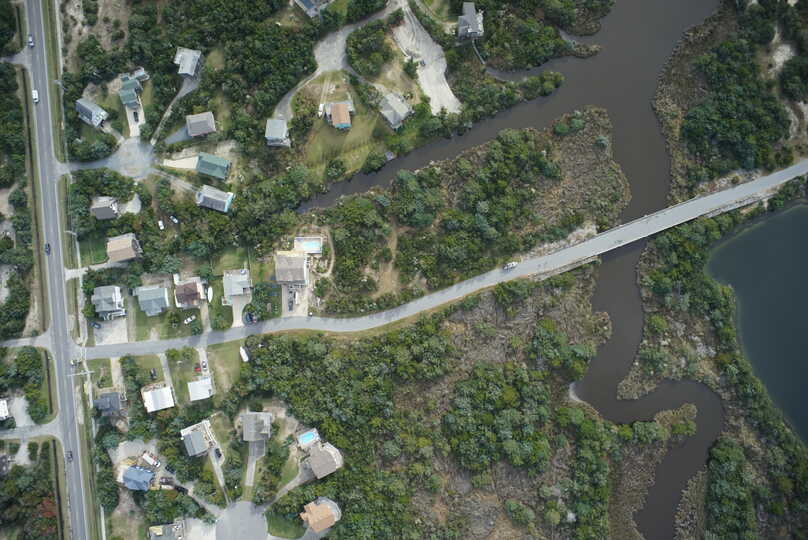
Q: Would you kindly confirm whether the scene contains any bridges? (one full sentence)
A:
Yes, there's a bridge down there.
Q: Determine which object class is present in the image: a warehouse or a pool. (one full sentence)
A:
Looking from above, you can make out a pool.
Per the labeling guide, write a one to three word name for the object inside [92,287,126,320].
house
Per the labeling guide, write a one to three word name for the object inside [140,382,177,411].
house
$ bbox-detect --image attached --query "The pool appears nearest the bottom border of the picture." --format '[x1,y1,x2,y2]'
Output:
[296,429,322,451]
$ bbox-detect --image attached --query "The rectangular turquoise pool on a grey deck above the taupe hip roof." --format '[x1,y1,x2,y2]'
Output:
[294,236,321,253]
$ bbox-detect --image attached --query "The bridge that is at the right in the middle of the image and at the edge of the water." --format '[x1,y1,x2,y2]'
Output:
[587,197,703,254]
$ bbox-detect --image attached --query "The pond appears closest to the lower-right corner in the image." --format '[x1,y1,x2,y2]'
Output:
[705,203,808,448]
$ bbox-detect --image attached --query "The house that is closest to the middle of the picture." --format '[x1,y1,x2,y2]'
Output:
[275,250,309,287]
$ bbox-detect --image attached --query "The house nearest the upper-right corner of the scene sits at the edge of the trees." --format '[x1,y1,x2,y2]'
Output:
[457,0,485,39]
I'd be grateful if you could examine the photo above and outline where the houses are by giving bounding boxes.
[275,250,309,287]
[196,152,234,178]
[185,111,218,140]
[74,96,110,126]
[0,455,17,478]
[378,92,413,129]
[221,269,253,305]
[242,411,273,441]
[172,47,204,77]
[266,119,290,146]
[194,184,235,212]
[173,274,205,308]
[90,197,122,219]
[107,231,144,261]
[92,287,126,320]
[0,396,14,419]
[188,376,215,399]
[118,66,150,111]
[301,445,343,479]
[122,459,158,491]
[140,382,177,411]
[133,284,170,315]
[298,496,341,531]
[457,0,485,39]
[148,517,187,540]
[326,100,356,130]
[179,420,219,456]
